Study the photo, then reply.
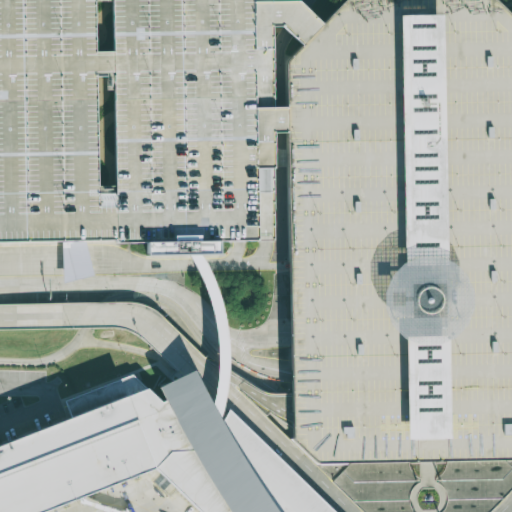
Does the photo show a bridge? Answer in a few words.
Yes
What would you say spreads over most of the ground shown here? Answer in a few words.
buildings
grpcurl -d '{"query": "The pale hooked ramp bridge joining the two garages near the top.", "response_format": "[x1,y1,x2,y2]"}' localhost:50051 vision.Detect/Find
[258,1,326,98]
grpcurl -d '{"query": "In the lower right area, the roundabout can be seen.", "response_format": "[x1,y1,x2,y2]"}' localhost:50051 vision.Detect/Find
[408,462,448,512]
